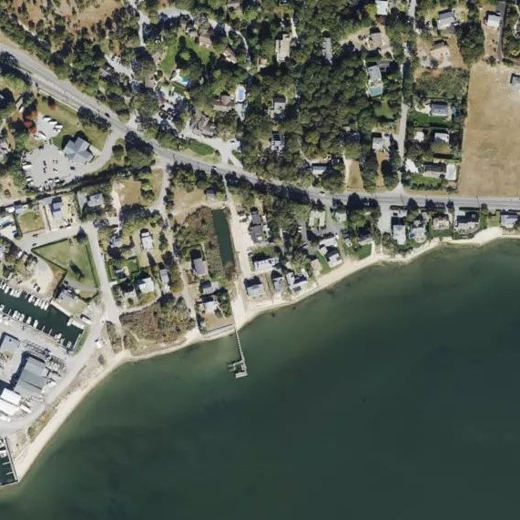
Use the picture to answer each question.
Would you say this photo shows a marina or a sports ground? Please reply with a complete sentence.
This image shows a marina.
